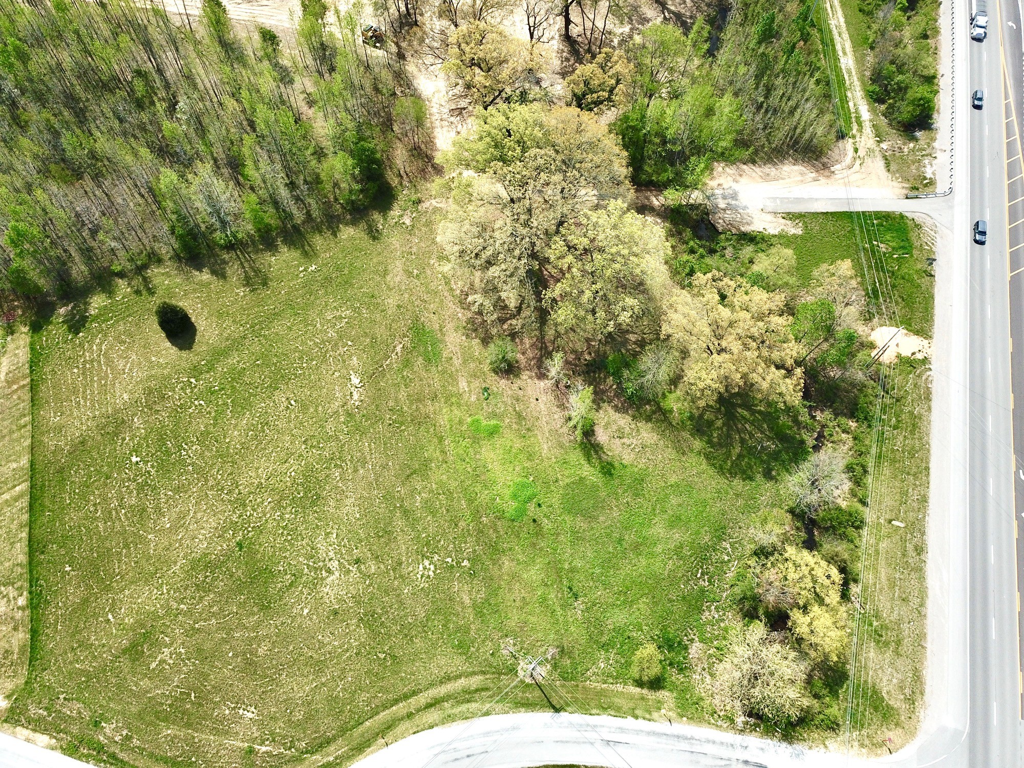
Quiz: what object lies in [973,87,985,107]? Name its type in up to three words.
vehicle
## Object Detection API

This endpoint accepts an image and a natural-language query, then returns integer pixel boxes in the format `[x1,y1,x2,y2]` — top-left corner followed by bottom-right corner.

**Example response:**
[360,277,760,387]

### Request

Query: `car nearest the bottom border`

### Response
[974,218,988,242]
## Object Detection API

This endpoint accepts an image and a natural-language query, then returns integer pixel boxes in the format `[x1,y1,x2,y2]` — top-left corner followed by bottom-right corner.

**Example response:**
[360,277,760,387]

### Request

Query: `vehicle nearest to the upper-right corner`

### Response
[972,0,992,40]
